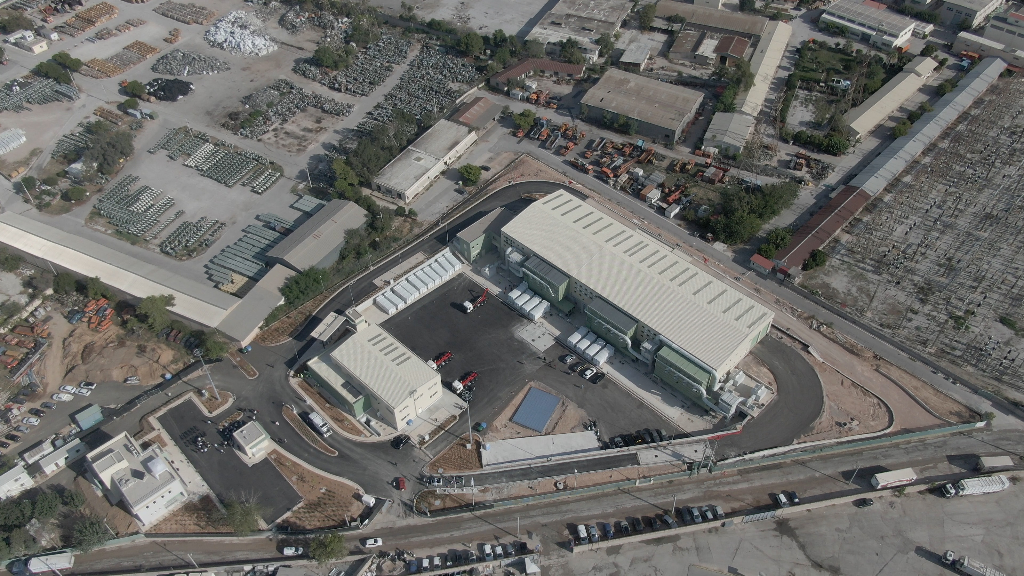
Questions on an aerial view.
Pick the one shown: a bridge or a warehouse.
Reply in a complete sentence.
Looking from above, you can make out a warehouse.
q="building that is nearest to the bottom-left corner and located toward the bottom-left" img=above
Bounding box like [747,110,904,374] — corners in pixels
[0,465,39,506]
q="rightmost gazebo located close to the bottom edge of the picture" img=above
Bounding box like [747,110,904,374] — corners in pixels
[522,554,543,576]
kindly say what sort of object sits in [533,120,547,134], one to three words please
vehicle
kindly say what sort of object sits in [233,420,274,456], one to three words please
building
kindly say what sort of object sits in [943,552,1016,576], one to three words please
truck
